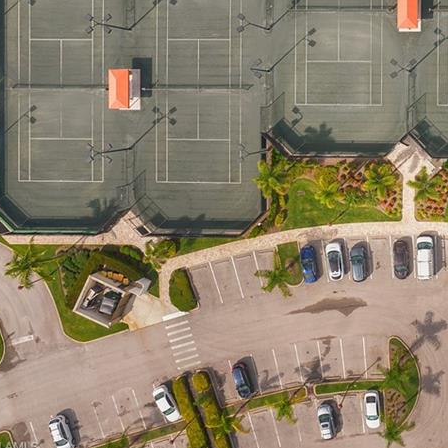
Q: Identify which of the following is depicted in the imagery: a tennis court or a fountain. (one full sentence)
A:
There is a tennis court in the scene.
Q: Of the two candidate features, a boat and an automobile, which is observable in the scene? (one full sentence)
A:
It is an automobile that can be seen here.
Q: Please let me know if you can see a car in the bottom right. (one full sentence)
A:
Yes, a car can be seen in the bottom right.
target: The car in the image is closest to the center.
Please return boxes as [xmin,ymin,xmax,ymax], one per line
[299,244,318,283]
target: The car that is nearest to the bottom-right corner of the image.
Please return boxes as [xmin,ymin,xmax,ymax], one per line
[364,391,382,428]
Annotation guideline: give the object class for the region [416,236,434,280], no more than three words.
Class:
vehicle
